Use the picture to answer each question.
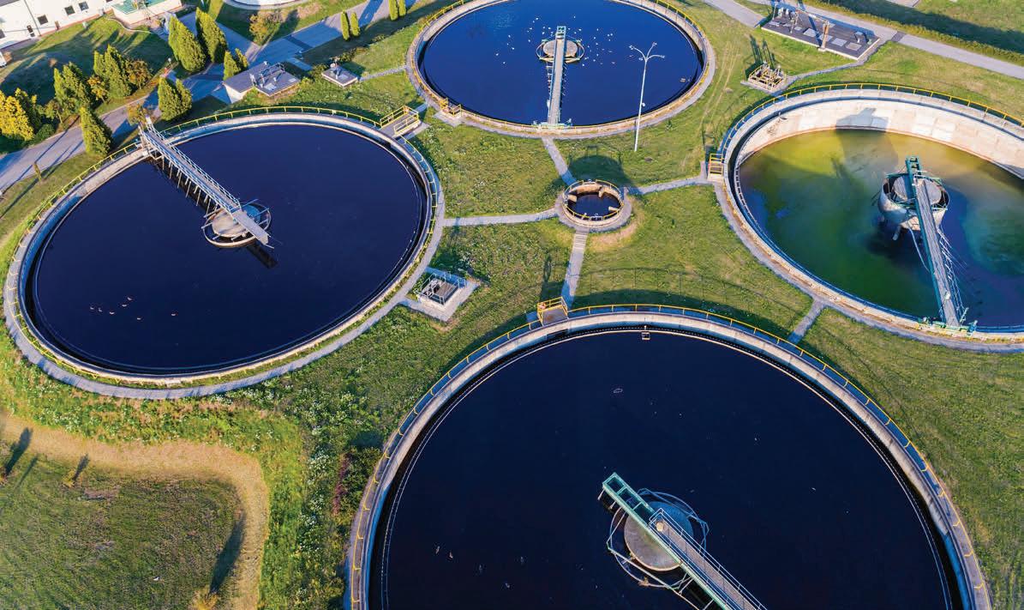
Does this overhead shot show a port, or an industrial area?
industrial area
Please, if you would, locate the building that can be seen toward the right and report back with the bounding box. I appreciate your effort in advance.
[762,0,880,62]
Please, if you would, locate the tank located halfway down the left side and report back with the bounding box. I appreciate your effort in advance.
[9,108,435,383]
